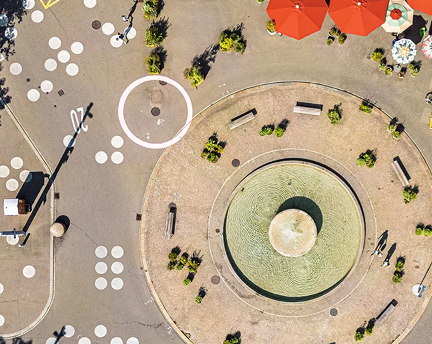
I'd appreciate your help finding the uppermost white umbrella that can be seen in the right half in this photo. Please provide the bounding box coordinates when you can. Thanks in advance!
[383,3,413,31]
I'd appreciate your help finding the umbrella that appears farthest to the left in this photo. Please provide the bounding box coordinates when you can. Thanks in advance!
[266,0,327,41]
